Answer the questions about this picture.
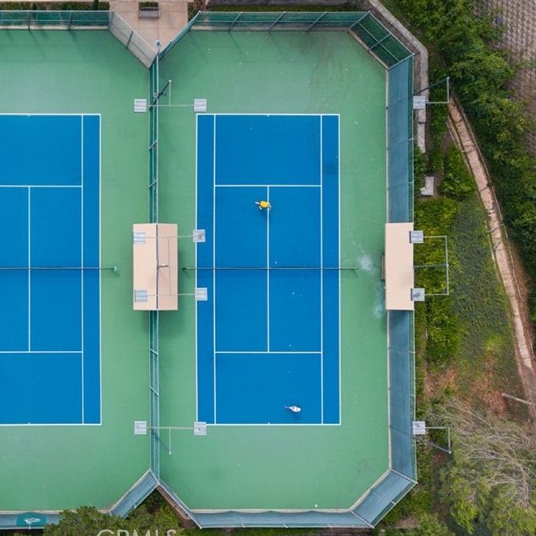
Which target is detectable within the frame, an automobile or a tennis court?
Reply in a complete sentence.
I can see a tennis court in this picture.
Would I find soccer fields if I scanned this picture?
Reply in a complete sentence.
No, there isn't any soccer field down there.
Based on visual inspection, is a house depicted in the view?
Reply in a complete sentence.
No, there is no house in the image.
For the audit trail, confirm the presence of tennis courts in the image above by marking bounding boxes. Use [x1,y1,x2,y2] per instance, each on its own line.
[149,31,387,507]
[0,31,150,509]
